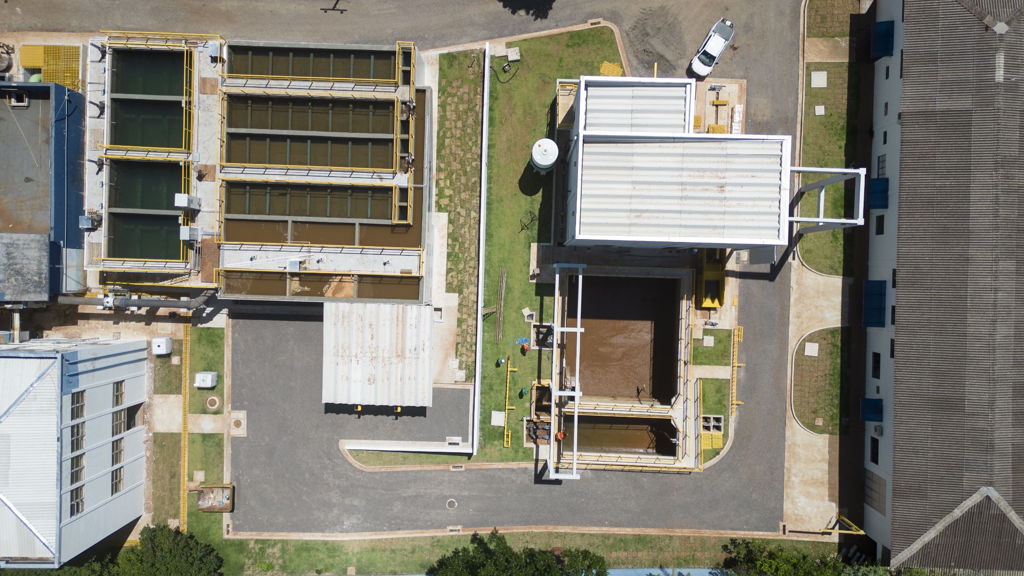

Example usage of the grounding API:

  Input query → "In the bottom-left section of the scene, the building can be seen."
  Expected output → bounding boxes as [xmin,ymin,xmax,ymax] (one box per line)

[0,338,150,572]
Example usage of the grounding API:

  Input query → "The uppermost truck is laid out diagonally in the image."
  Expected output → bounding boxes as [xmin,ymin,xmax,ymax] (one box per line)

[688,18,737,82]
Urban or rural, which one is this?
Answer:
urban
